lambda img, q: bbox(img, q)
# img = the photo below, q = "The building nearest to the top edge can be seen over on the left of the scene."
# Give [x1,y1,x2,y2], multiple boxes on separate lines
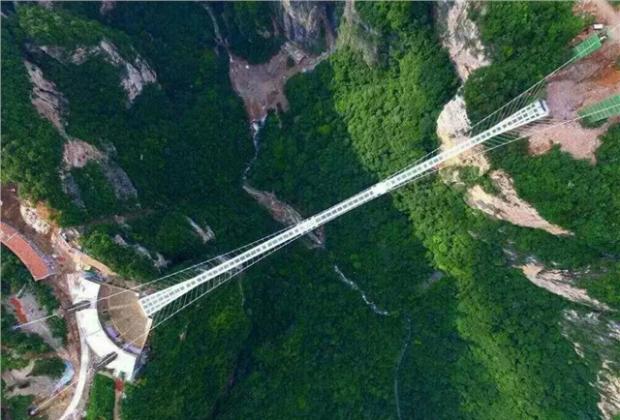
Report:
[0,220,54,280]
